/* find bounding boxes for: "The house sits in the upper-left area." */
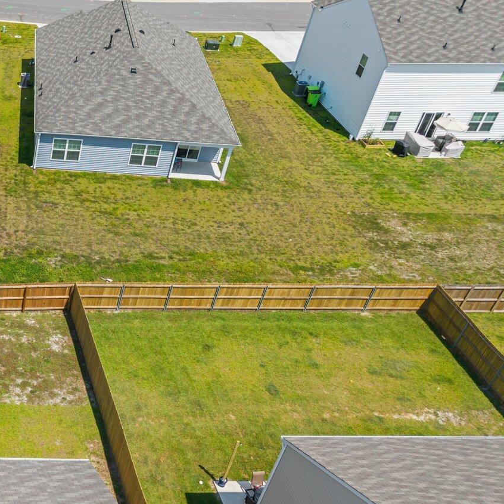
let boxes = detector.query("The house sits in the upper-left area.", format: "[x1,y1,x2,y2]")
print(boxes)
[32,0,243,180]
